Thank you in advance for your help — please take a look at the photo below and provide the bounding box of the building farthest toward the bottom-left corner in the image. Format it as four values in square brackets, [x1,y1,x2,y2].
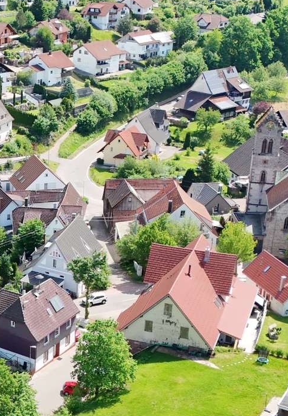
[0,277,76,361]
